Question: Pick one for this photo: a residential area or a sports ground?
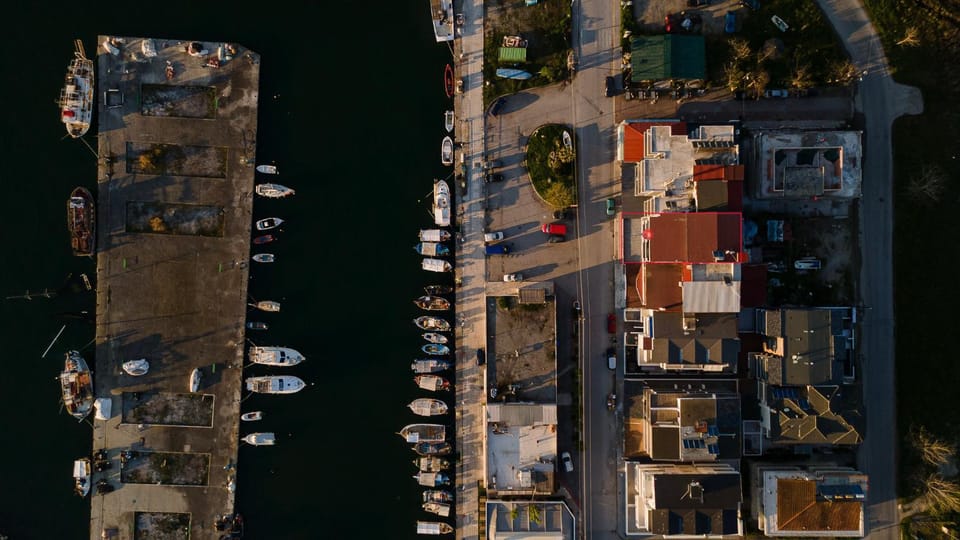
residential area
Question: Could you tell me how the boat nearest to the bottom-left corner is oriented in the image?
vertically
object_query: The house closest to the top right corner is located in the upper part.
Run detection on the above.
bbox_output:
[753,129,866,200]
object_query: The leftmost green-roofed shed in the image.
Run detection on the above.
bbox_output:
[499,48,526,64]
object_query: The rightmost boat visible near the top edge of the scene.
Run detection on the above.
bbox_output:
[772,13,792,33]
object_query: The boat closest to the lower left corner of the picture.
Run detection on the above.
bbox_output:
[70,458,90,501]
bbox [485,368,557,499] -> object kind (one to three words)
building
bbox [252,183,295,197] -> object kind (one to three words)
boat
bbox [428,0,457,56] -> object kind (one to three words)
ship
